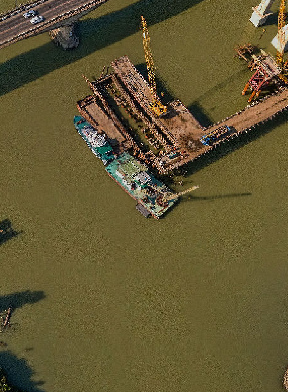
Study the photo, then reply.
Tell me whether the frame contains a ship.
Yes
